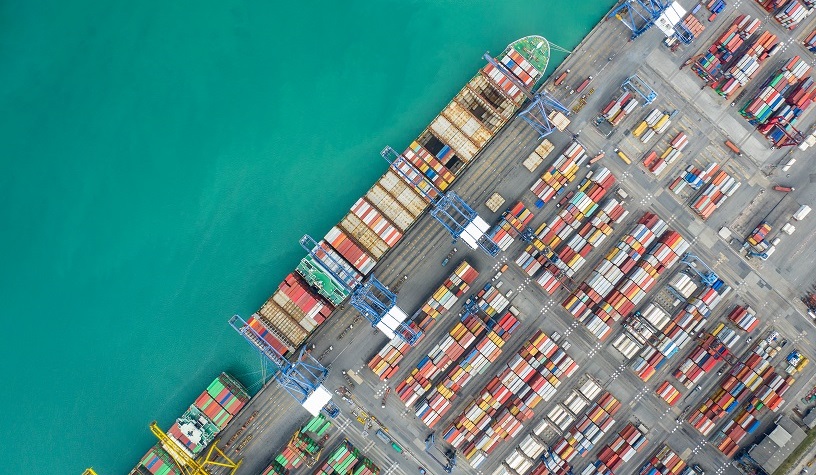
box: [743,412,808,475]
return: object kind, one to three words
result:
building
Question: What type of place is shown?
port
